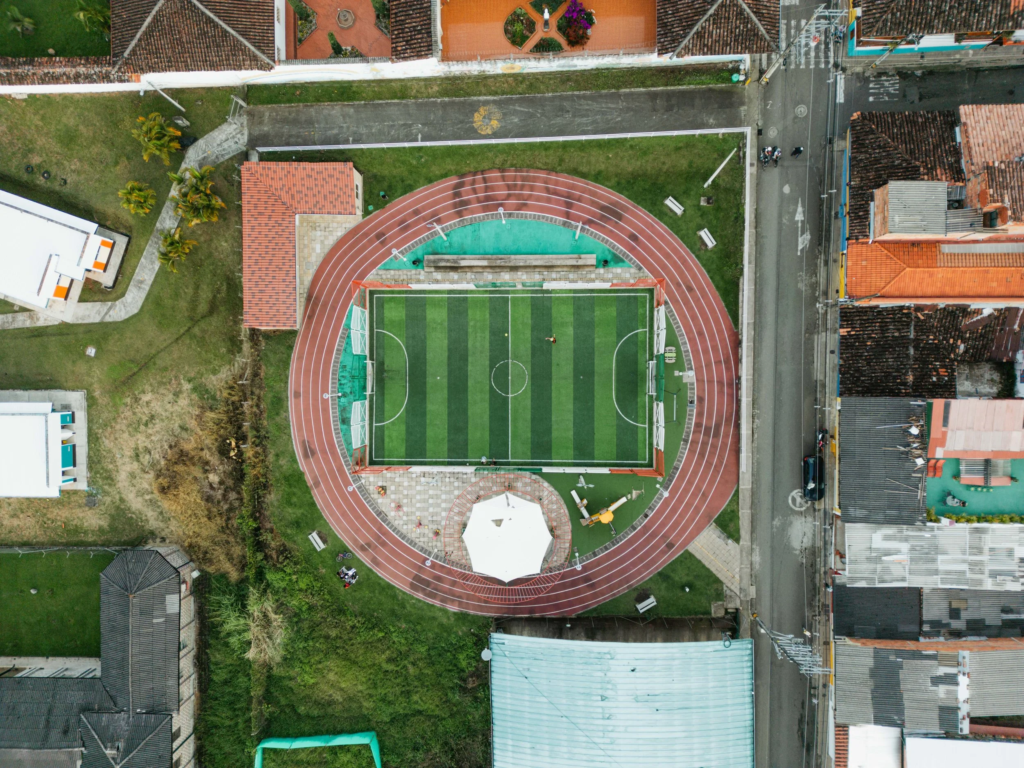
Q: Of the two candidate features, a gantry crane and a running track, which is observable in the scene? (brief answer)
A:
running track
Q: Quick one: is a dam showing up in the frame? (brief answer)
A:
No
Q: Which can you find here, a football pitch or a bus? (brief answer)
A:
football pitch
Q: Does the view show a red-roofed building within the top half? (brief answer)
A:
Yes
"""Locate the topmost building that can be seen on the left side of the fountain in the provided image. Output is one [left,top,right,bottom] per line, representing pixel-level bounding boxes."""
[110,0,285,86]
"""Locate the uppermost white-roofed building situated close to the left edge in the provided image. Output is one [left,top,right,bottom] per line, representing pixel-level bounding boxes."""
[0,190,131,308]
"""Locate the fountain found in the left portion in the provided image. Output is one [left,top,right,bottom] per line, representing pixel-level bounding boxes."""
[336,8,354,28]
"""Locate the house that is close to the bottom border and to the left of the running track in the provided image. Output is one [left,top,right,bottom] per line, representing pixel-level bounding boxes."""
[0,548,195,768]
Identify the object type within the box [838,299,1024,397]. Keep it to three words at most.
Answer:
house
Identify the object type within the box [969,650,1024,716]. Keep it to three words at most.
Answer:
shed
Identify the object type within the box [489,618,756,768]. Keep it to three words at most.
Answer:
building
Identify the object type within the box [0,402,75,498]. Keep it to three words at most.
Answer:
building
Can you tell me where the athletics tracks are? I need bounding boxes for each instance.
[286,167,740,617]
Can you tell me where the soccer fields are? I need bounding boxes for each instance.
[366,286,657,470]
